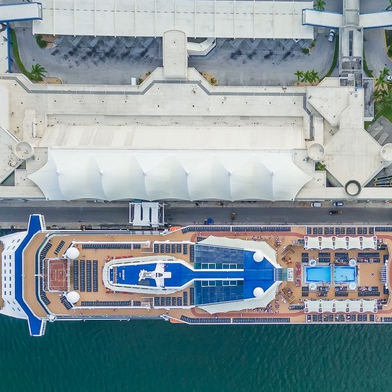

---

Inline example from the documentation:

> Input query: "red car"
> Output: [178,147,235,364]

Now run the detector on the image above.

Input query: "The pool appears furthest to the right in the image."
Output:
[334,266,356,282]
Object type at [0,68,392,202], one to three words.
building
